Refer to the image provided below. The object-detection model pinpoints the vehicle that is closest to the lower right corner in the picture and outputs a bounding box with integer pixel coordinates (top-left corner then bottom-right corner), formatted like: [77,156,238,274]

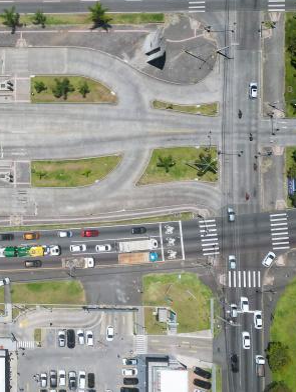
[253,351,266,376]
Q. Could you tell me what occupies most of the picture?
paved ground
